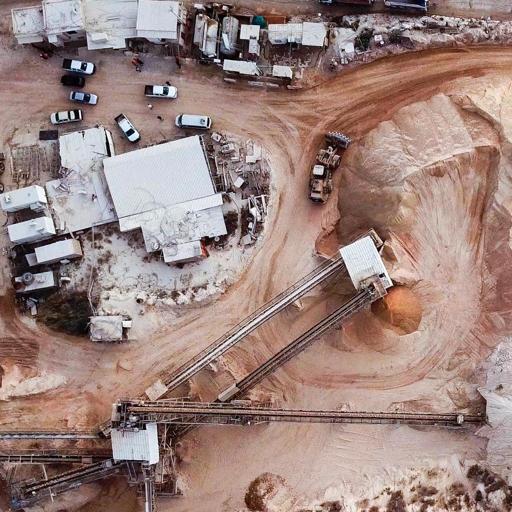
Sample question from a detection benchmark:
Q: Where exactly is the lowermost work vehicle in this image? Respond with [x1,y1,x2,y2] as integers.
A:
[307,132,352,202]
